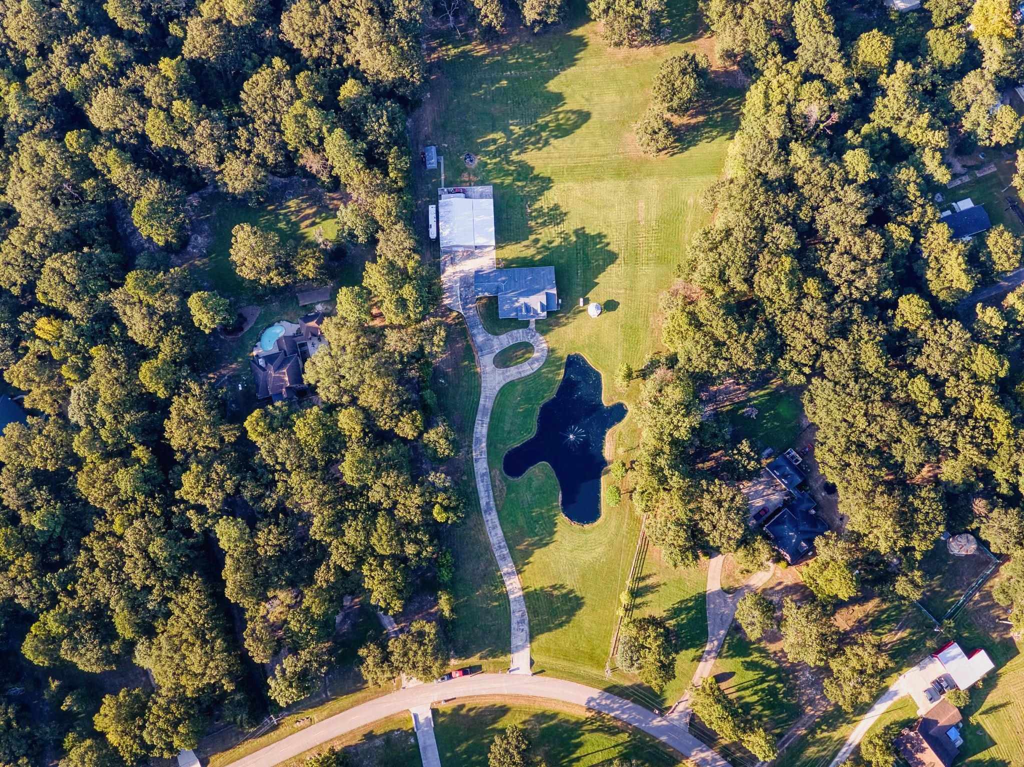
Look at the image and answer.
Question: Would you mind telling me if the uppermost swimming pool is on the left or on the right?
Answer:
left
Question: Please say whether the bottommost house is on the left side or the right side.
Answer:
right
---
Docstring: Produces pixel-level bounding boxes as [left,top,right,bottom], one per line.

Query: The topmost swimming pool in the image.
[259,324,286,351]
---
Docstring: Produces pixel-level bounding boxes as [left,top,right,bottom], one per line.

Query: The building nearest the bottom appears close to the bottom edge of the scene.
[892,698,963,767]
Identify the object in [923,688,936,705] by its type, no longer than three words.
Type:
vehicle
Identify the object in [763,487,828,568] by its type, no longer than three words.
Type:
house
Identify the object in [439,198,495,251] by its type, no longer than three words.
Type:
barn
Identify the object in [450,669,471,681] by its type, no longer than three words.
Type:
vehicle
